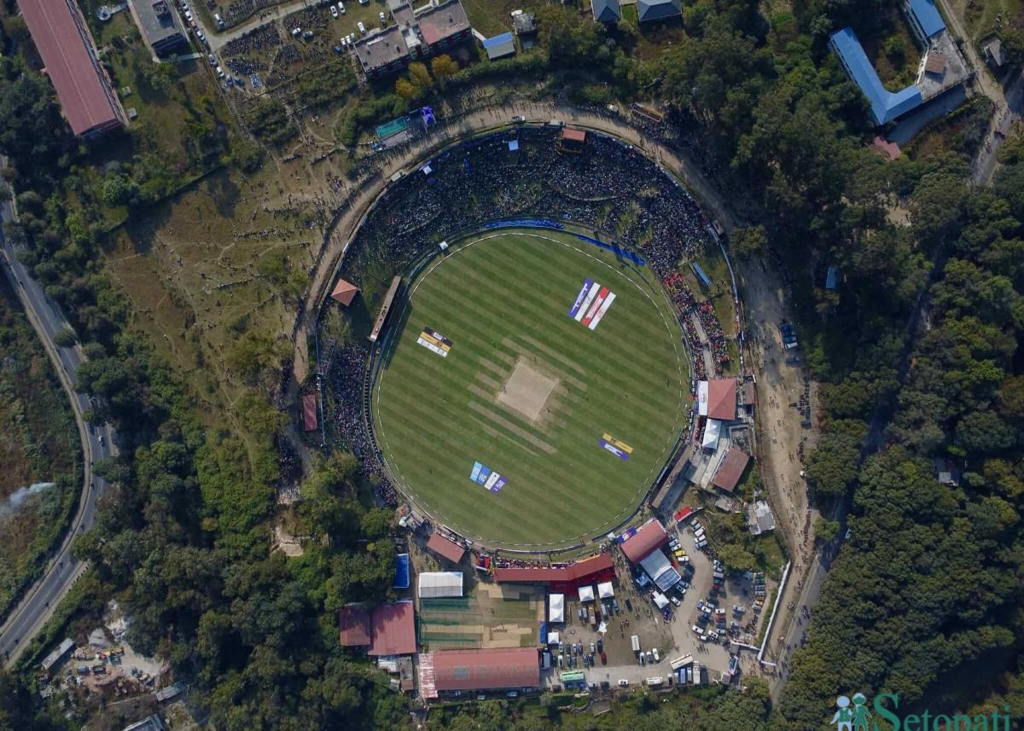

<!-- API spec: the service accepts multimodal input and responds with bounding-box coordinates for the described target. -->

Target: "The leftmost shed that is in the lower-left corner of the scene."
[41,635,78,670]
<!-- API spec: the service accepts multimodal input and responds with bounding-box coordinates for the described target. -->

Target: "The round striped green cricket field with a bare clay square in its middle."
[369,230,696,554]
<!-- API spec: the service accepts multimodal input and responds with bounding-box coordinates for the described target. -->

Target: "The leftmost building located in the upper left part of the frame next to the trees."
[18,0,125,140]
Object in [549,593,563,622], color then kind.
white tent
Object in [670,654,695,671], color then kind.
white vehicle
